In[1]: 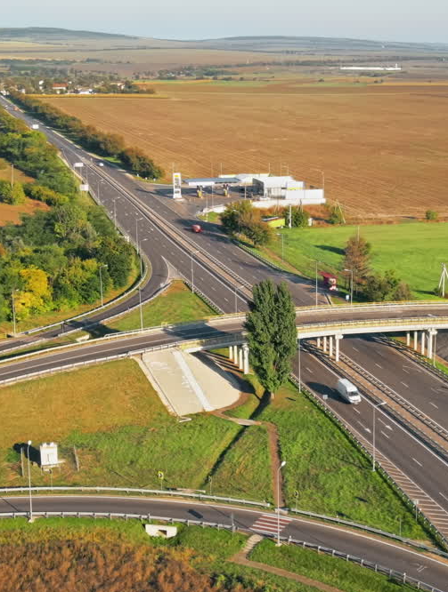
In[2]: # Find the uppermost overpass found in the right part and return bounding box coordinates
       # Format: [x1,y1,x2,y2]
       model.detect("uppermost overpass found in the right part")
[110,300,448,375]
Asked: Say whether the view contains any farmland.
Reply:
Yes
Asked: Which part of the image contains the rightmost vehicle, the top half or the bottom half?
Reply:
bottom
